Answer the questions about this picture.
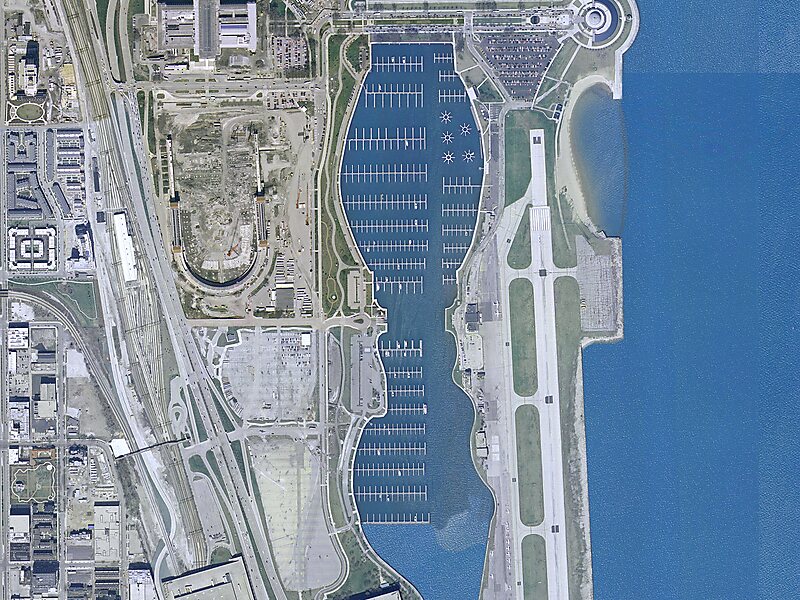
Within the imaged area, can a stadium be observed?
Yes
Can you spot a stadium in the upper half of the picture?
Yes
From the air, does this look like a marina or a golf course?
marina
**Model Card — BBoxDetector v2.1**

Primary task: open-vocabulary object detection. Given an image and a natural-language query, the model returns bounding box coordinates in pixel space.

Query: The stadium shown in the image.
[166,106,269,300]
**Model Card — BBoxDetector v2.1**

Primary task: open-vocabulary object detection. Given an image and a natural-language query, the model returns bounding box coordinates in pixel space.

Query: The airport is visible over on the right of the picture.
[478,111,623,600]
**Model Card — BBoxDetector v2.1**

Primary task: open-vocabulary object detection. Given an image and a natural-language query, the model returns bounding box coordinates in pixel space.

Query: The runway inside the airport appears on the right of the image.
[530,208,569,600]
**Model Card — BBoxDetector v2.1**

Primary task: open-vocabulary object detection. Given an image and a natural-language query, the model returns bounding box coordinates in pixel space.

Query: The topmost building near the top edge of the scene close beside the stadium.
[158,0,256,65]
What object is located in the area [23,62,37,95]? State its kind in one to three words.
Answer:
building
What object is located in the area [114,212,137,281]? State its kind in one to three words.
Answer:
shed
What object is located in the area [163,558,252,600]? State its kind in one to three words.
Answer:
building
